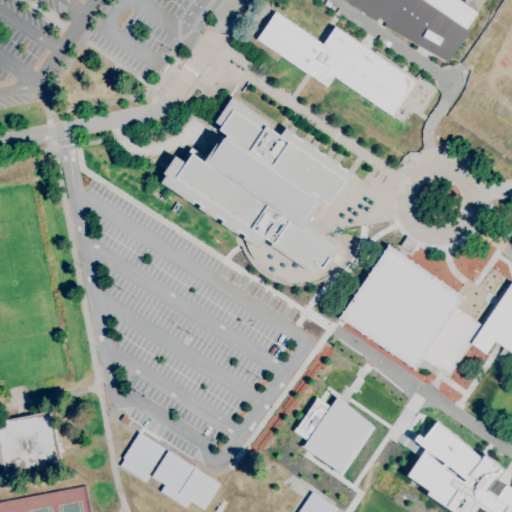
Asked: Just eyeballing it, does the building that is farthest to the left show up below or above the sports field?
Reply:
below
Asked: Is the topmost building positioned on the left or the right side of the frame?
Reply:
right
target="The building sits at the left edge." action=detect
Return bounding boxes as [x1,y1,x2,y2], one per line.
[0,414,64,474]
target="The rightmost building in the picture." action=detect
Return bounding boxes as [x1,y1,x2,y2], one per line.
[470,280,512,356]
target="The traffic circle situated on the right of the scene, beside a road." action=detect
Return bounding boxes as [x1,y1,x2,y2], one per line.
[392,150,512,251]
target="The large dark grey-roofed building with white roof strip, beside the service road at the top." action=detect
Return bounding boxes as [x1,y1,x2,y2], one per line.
[354,0,479,62]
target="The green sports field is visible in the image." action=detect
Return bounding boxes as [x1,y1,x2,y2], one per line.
[0,183,68,382]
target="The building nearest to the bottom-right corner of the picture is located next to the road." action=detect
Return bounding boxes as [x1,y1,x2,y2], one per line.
[398,414,512,512]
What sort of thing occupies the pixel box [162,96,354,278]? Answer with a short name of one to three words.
building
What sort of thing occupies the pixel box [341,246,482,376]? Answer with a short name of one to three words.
building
